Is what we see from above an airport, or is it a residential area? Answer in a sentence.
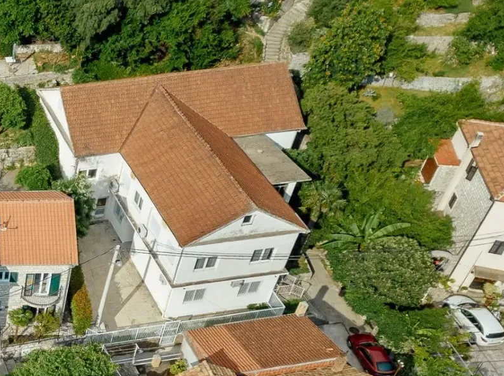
The area seen from above is a residential area.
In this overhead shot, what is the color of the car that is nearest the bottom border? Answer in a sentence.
The car that is nearest the bottom border is red.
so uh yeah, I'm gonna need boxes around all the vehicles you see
[448,302,504,350]
[342,334,407,376]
